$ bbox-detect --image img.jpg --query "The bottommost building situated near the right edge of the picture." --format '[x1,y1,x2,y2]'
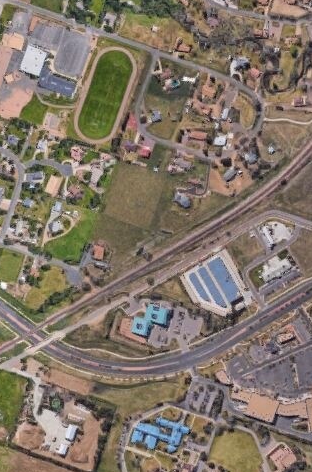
[269,444,296,470]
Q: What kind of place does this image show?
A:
residential area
